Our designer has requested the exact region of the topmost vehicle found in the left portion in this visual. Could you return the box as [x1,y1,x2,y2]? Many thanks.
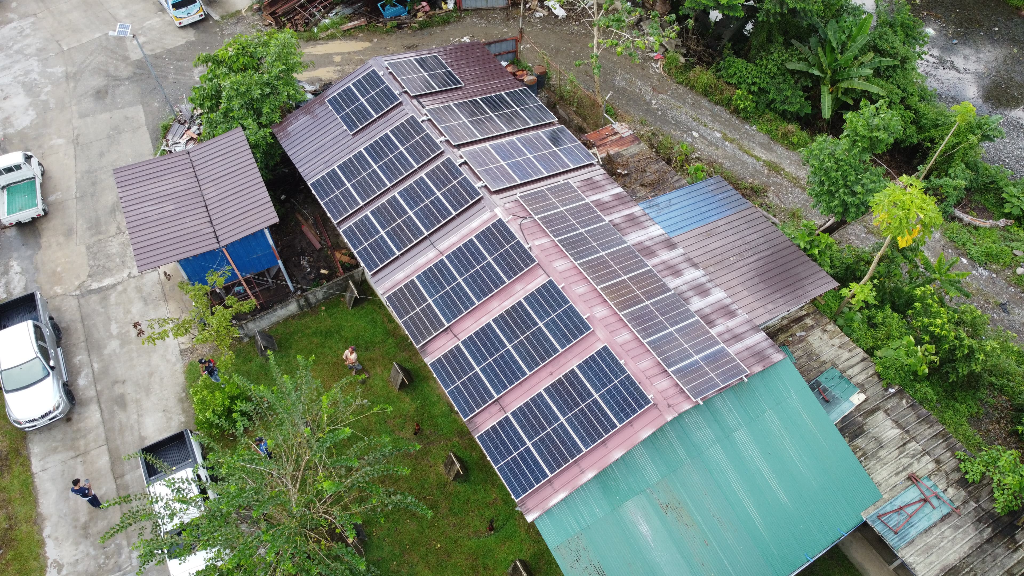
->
[166,0,205,28]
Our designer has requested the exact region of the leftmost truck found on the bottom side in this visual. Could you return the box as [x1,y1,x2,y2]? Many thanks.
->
[0,291,80,431]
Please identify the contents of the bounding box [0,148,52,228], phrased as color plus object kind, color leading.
white truck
